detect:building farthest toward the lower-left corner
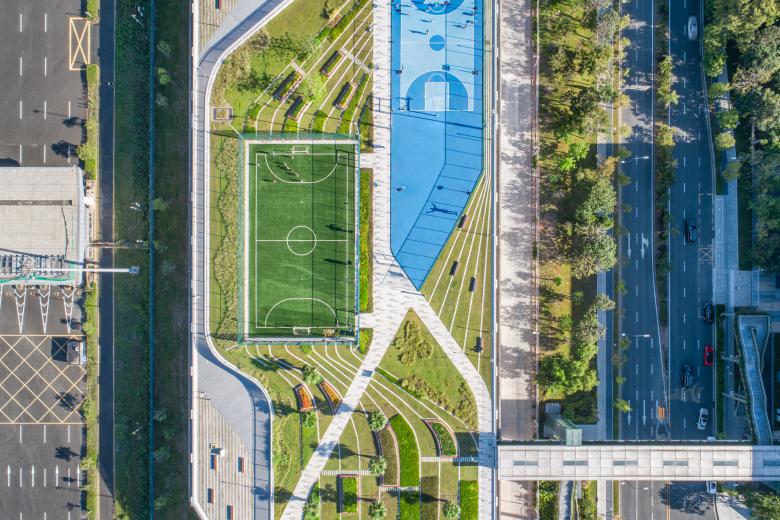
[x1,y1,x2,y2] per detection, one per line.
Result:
[67,340,84,365]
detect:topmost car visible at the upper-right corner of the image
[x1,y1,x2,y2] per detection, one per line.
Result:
[689,16,701,37]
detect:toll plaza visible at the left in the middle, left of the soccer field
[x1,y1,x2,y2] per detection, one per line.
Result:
[0,160,87,292]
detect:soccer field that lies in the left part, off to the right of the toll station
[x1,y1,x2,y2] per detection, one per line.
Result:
[244,139,358,342]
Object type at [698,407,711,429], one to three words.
vehicle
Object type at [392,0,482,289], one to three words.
basketball court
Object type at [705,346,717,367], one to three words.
vehicle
